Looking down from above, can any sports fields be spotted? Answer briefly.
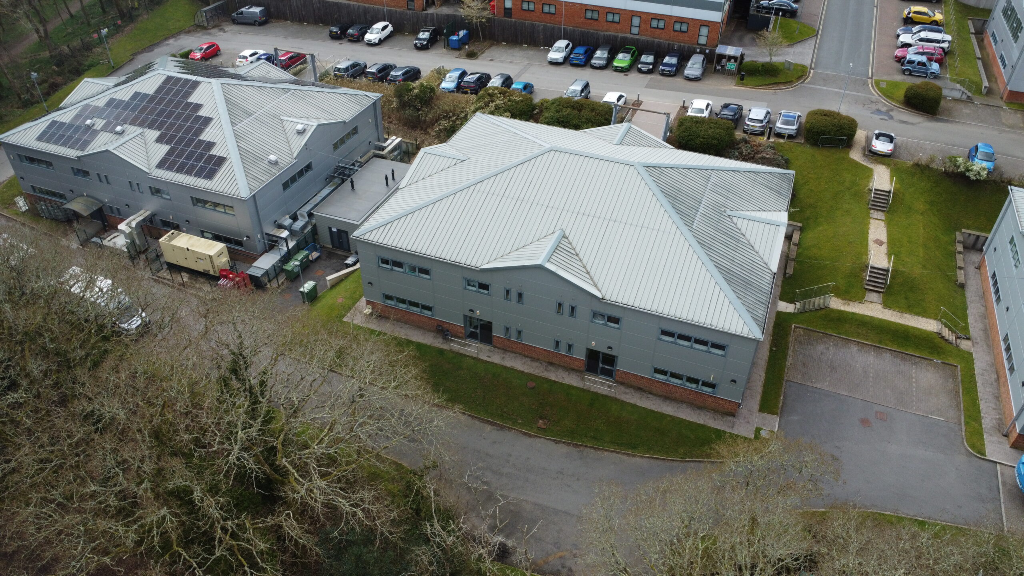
No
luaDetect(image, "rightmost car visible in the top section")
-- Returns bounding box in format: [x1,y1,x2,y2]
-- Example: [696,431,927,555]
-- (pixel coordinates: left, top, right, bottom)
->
[967,138,1002,167]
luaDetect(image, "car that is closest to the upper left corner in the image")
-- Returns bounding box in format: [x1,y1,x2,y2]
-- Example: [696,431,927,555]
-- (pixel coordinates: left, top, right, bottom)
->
[184,38,221,60]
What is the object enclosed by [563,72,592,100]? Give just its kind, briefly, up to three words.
car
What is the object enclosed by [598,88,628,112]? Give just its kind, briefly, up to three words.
car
